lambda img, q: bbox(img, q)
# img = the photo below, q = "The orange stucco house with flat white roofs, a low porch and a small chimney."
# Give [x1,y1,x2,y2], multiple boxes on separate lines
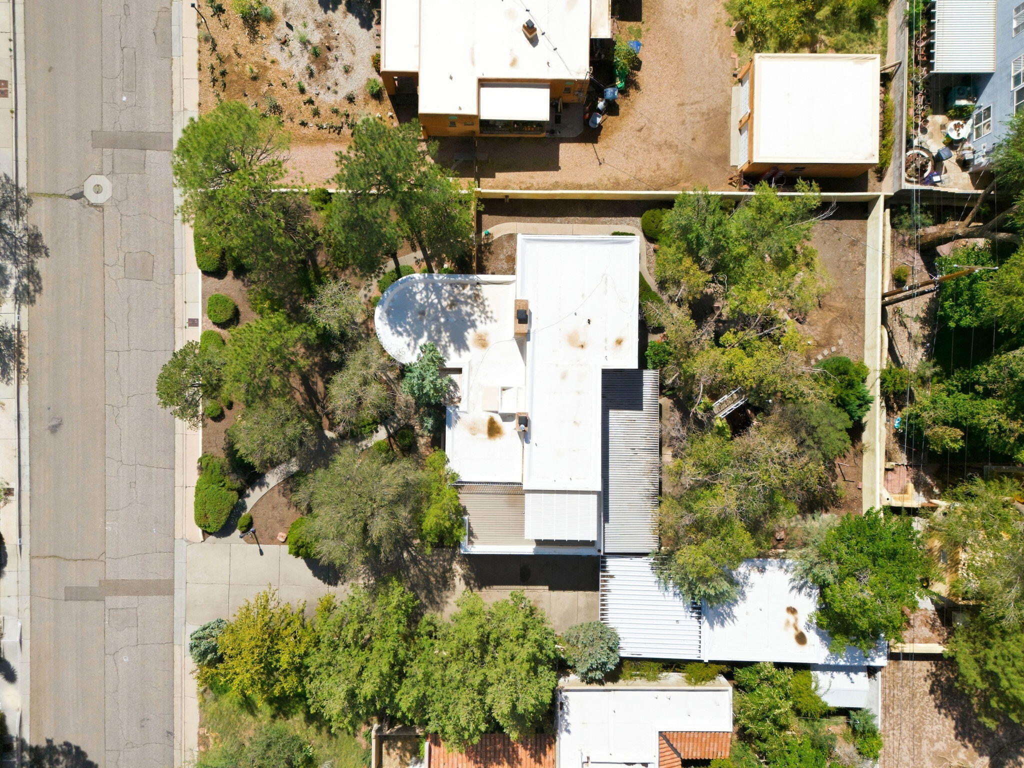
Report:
[381,0,611,141]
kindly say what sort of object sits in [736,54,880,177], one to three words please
building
